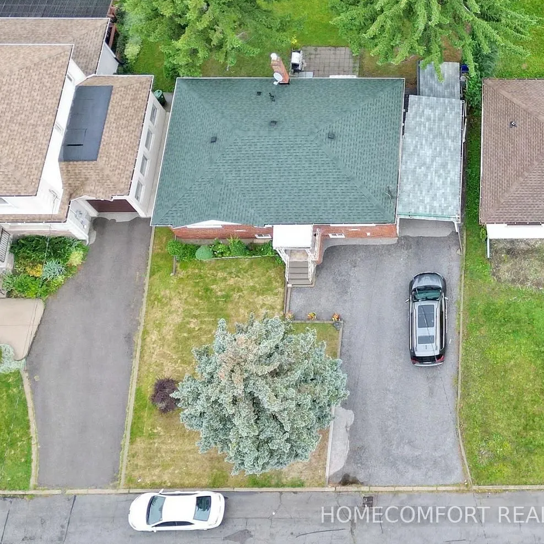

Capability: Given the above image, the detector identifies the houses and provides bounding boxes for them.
[151,60,407,240]
[479,77,544,255]
[0,16,166,245]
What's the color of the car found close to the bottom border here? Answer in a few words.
white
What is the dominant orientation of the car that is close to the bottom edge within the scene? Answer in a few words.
horizontally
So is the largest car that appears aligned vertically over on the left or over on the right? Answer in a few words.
right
